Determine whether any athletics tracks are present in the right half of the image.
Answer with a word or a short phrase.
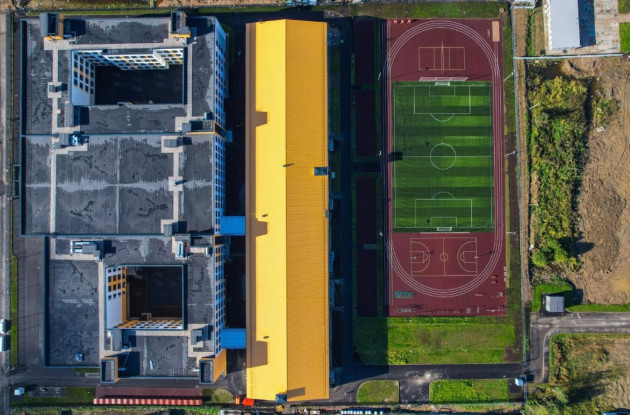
Yes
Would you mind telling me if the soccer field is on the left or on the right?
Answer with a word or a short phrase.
right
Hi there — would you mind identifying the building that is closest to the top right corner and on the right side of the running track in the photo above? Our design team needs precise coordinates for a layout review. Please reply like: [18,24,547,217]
[545,0,581,54]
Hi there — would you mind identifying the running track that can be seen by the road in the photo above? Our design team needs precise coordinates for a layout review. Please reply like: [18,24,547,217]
[380,18,507,317]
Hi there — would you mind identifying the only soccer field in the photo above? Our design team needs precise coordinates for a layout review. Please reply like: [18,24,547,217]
[392,81,494,232]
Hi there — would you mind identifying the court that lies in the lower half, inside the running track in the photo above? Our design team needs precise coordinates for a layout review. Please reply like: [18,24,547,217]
[408,235,479,278]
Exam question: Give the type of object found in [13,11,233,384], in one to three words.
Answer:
building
